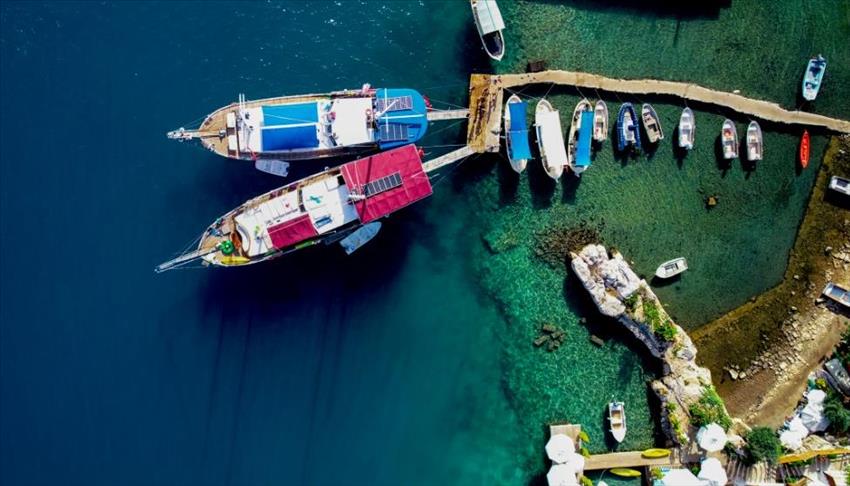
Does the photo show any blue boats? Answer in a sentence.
Yes, a blue boat appears in the view.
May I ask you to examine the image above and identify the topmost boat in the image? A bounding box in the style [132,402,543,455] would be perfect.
[475,0,507,60]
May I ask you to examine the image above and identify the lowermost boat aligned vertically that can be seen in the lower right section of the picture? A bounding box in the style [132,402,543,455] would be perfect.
[610,400,629,444]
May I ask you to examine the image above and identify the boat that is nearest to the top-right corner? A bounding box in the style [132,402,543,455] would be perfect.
[804,56,826,100]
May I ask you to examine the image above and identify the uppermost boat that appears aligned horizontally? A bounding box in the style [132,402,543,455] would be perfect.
[168,83,432,163]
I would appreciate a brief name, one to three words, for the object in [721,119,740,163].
boat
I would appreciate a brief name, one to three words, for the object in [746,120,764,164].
boat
